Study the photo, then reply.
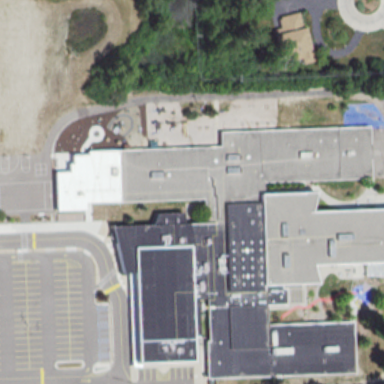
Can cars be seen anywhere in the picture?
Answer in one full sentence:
No, I can't see a single car in this photo.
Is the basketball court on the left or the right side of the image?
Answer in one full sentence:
It is on the left.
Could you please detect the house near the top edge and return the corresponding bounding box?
[279,11,318,68]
